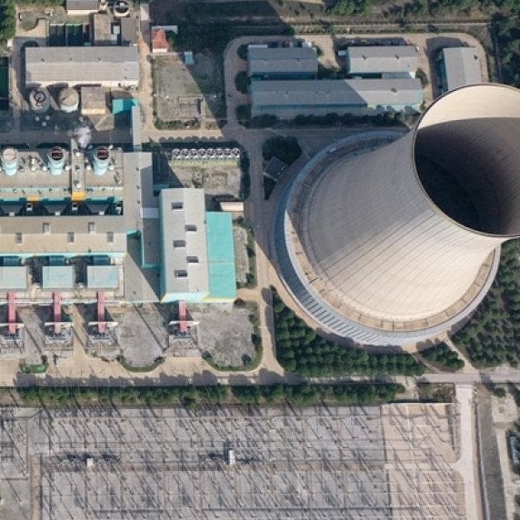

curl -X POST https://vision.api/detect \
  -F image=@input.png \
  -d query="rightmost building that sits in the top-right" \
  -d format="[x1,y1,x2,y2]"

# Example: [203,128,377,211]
[437,46,481,93]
